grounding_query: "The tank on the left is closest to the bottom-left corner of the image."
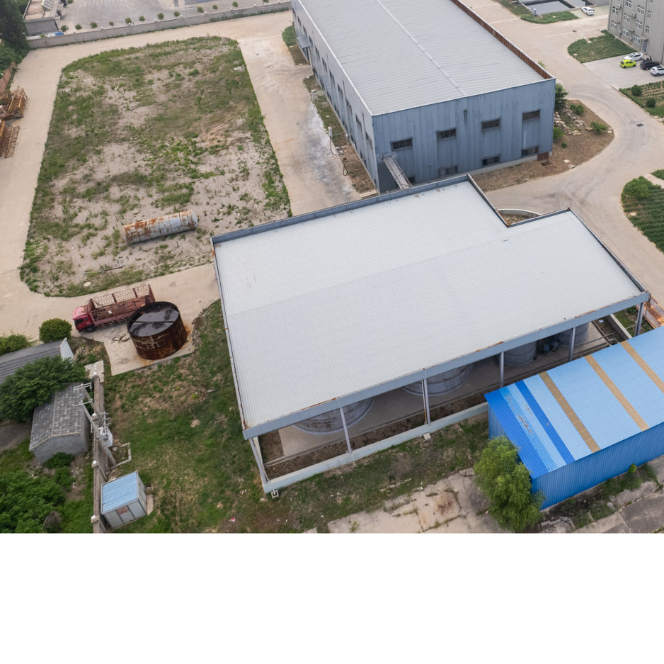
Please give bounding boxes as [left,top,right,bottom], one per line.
[123,300,191,365]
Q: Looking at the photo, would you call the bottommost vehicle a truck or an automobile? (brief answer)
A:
truck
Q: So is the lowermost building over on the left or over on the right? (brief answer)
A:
left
